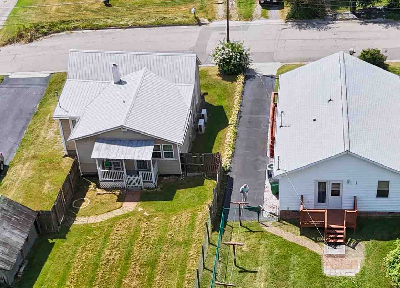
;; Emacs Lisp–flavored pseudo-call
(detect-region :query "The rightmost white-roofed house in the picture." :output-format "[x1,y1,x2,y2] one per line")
[273,52,400,219]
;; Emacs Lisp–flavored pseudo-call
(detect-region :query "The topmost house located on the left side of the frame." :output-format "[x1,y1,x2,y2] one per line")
[48,49,214,194]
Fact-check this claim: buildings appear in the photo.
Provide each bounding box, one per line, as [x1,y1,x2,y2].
[273,52,400,219]
[48,49,214,194]
[0,187,39,286]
